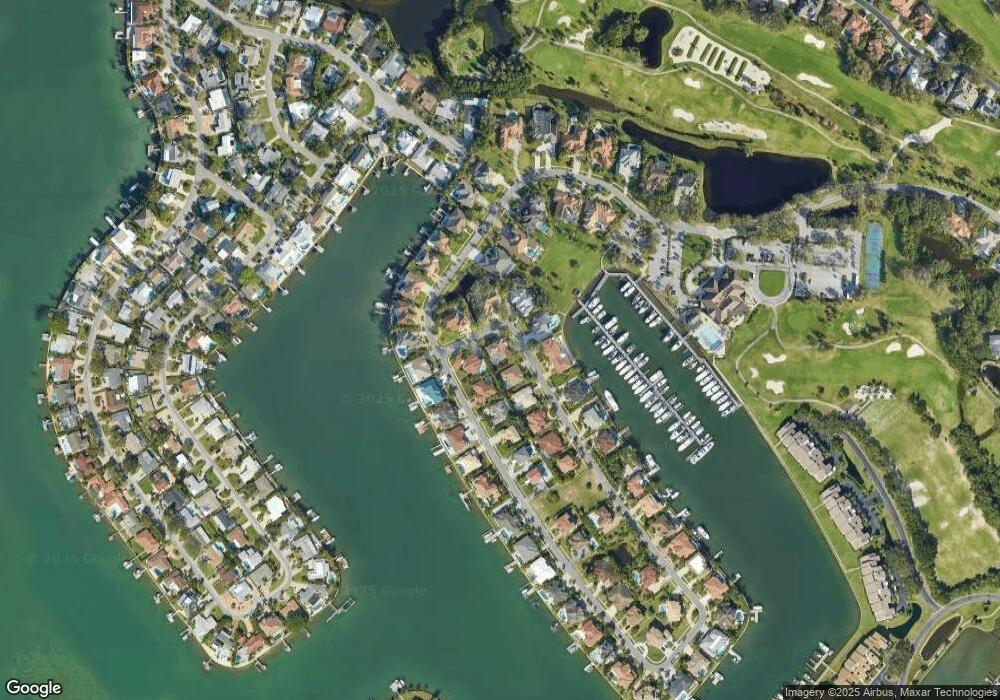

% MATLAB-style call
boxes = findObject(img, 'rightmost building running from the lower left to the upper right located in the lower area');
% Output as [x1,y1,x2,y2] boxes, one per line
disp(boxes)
[823,630,892,700]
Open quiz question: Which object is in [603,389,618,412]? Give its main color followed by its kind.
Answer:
white boat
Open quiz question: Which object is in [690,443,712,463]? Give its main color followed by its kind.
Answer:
white boat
